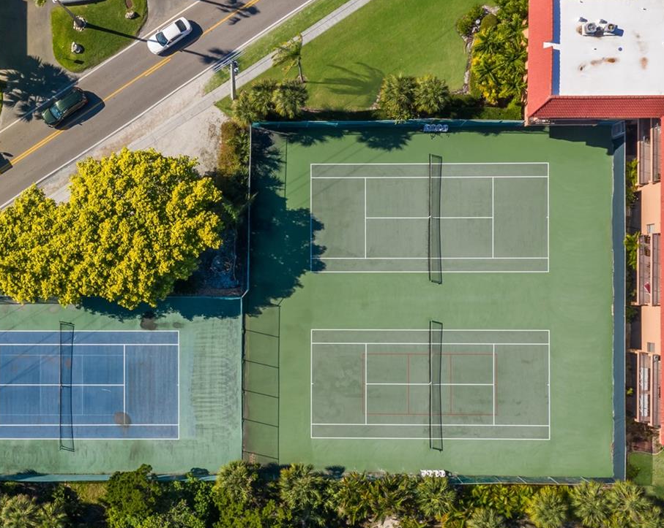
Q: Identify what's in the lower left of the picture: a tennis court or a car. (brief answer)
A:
tennis court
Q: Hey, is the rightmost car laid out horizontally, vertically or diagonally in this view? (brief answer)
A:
diagonally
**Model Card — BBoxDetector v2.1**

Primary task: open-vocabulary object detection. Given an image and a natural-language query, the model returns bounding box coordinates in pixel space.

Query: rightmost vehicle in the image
[146,16,194,56]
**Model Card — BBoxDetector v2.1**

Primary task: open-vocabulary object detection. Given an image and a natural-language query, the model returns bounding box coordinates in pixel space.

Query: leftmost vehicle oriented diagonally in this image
[41,86,89,126]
